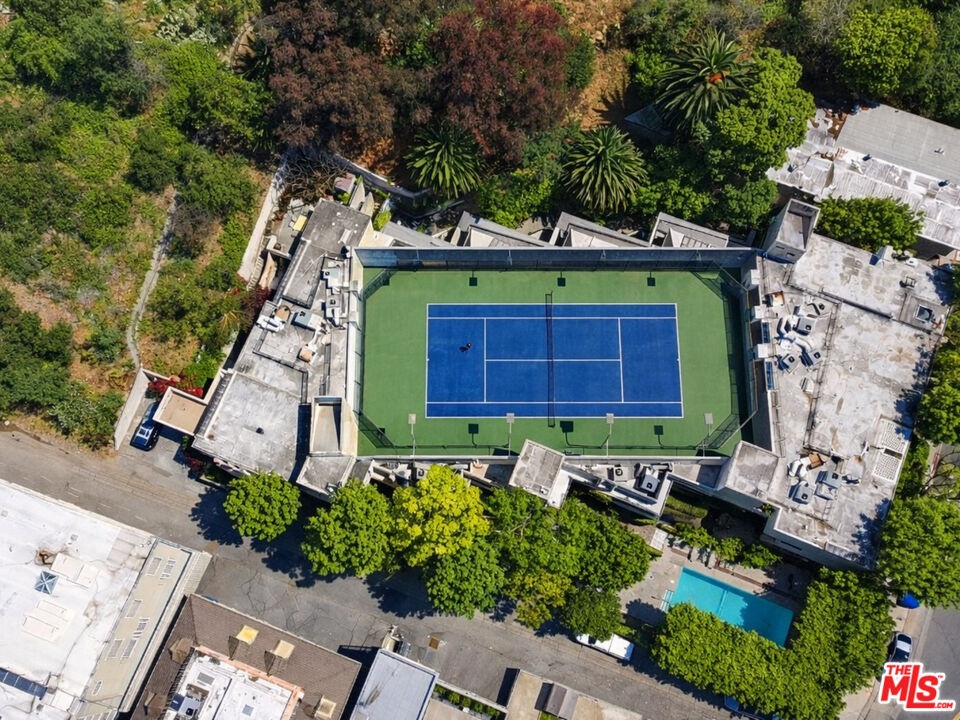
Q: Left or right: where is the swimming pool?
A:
right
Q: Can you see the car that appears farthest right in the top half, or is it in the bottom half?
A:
bottom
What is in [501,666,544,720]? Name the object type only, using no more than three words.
building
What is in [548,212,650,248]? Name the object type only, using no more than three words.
house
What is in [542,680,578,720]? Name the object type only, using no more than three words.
shed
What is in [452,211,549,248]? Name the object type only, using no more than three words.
house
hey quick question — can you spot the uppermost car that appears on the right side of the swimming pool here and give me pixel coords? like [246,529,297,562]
[884,626,917,681]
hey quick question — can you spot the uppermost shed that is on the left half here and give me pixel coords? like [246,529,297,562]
[334,172,357,195]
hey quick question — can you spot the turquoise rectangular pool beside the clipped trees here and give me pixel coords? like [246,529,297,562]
[660,562,800,643]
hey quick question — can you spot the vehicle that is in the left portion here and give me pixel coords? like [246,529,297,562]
[128,399,163,454]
